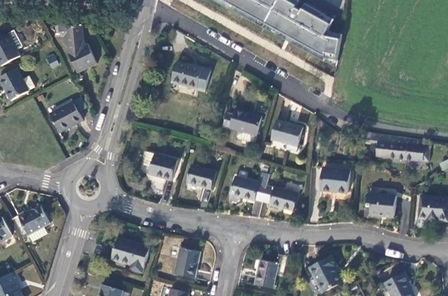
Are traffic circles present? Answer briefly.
Yes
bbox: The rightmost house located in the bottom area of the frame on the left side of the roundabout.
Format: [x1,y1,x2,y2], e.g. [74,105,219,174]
[19,202,52,241]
